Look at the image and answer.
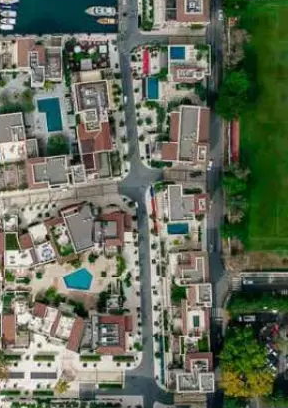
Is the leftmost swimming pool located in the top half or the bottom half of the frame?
top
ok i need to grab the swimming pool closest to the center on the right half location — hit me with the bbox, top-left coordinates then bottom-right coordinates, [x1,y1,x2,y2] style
[167,222,190,235]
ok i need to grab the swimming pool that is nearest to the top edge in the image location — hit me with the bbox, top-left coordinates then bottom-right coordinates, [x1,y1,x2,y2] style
[170,47,187,60]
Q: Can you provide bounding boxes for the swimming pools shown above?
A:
[62,266,95,292]
[167,222,190,235]
[170,47,187,60]
[36,95,65,134]
[147,77,160,100]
